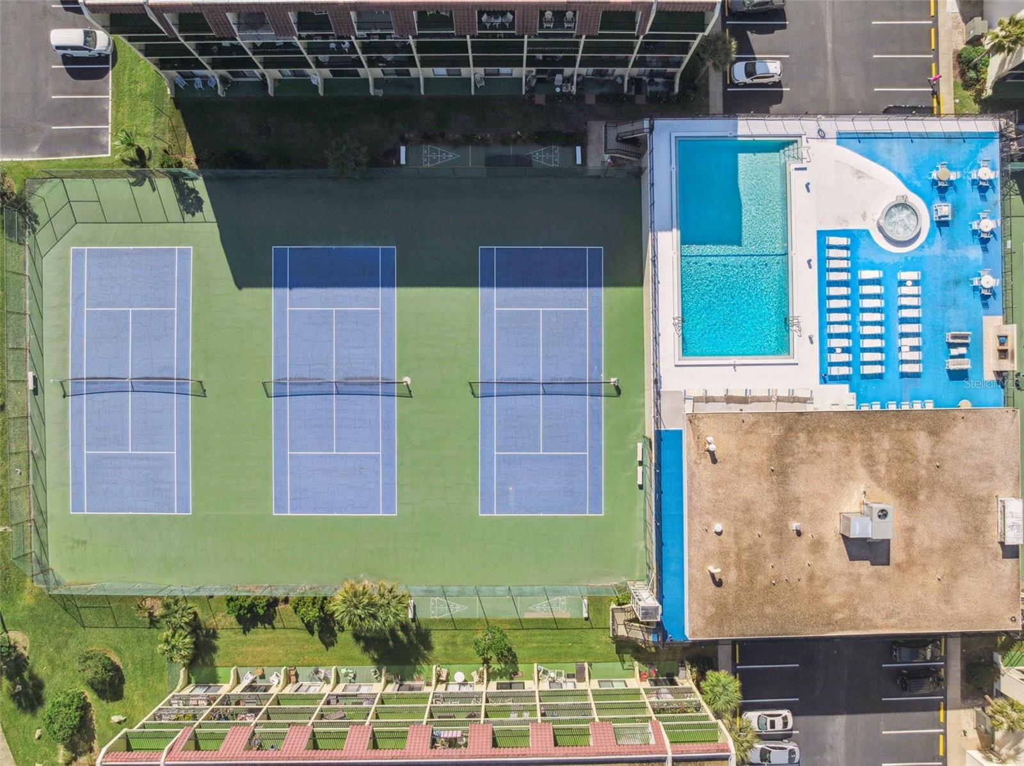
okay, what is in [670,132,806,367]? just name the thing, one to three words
swimming pool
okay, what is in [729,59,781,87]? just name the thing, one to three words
car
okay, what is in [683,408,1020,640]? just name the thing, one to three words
building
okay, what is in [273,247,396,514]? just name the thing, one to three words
tennis court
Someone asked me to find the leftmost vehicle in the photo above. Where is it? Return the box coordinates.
[51,29,116,59]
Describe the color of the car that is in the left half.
white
